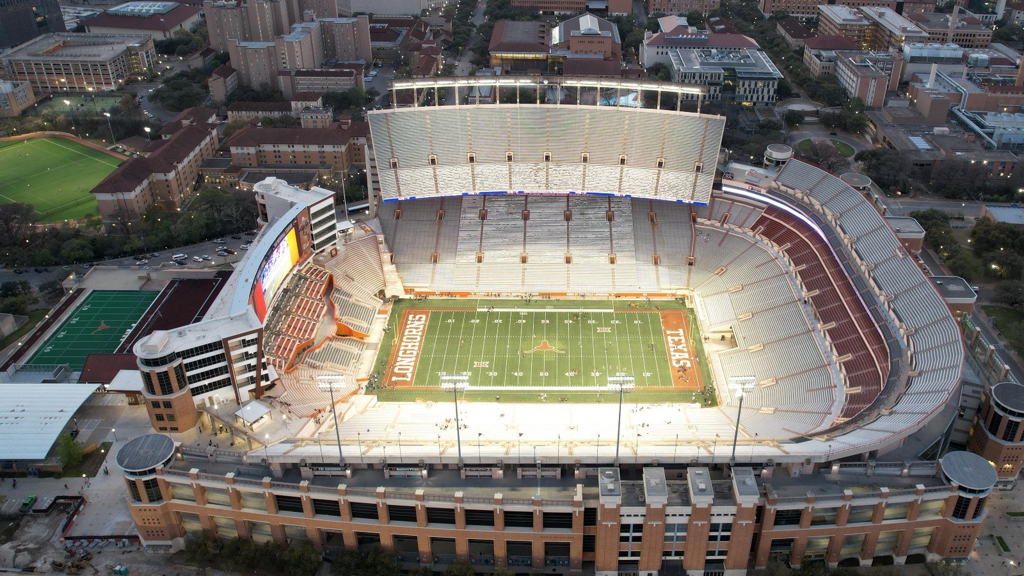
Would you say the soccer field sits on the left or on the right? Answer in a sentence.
The soccer field appears in the left half of the scene.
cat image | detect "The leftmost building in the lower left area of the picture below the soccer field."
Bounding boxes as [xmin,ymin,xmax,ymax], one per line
[0,386,103,479]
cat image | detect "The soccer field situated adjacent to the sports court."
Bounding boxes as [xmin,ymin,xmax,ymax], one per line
[0,134,122,222]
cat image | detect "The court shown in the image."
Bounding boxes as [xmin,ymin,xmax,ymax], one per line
[31,95,123,113]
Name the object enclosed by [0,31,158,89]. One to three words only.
building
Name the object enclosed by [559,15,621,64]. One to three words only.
building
